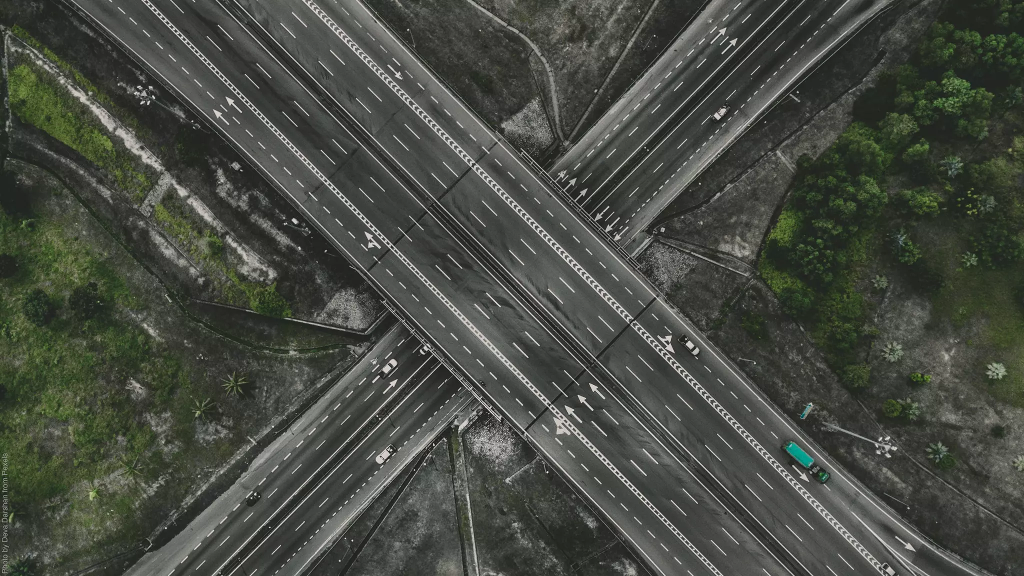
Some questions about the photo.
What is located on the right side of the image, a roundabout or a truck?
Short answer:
truck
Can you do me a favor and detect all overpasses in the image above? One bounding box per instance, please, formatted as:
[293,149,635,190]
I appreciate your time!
[357,131,667,442]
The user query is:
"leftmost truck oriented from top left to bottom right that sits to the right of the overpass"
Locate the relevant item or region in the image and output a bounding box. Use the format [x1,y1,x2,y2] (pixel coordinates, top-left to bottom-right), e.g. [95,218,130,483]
[677,332,701,356]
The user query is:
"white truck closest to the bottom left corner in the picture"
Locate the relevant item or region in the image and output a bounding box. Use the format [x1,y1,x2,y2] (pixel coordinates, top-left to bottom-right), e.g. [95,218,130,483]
[375,442,398,464]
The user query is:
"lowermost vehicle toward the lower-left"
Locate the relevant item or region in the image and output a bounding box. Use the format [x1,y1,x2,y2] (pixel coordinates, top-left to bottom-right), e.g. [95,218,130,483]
[245,491,262,507]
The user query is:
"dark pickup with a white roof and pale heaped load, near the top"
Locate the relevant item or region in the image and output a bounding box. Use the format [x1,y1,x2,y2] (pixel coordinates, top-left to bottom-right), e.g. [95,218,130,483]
[710,102,733,125]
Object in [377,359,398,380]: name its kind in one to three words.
truck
